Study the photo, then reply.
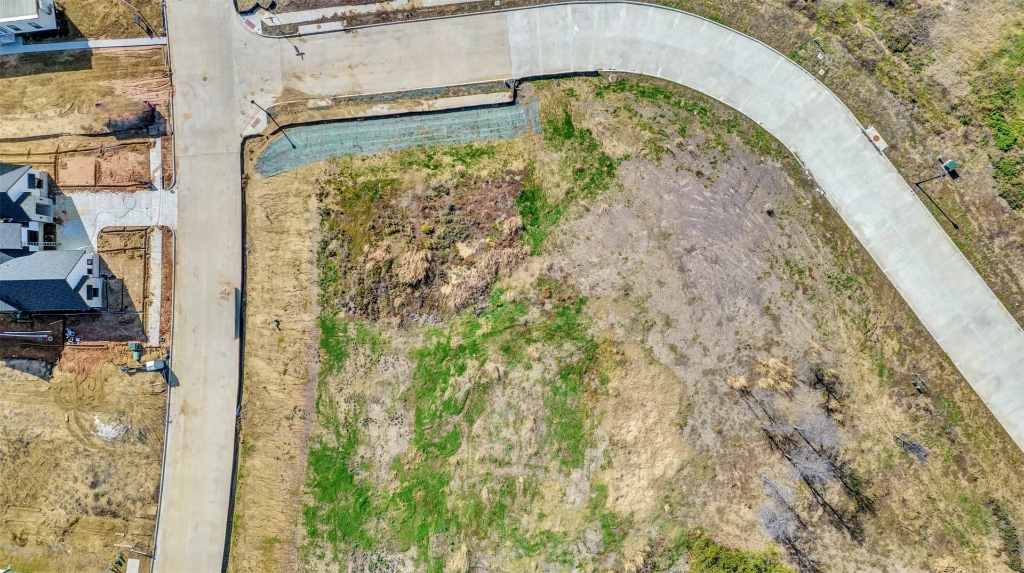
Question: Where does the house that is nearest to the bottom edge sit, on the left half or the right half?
left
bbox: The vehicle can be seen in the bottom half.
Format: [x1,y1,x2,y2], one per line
[123,358,173,373]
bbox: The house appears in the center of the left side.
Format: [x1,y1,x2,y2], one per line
[0,162,103,309]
